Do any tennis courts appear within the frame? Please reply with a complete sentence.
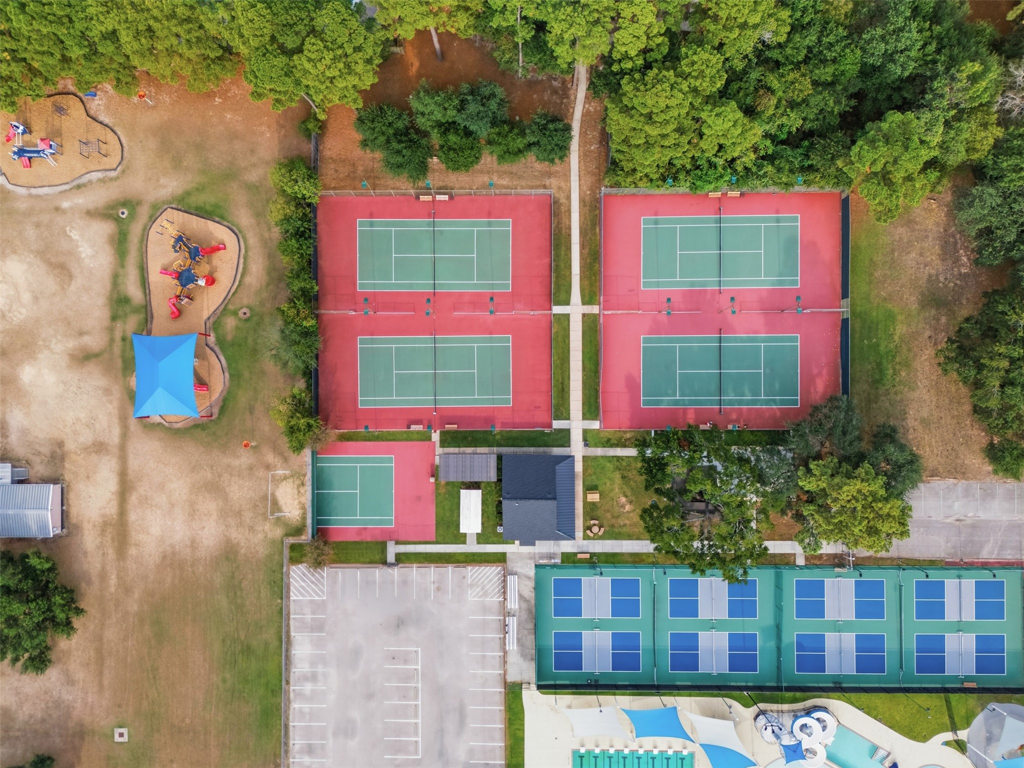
Yes, I can see a tennis court in this picture.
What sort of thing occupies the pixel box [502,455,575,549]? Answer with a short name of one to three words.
building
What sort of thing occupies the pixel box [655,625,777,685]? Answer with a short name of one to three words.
sports court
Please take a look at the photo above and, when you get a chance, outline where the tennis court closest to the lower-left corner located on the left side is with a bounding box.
[316,442,435,541]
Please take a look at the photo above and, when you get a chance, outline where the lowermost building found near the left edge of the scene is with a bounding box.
[0,484,65,538]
